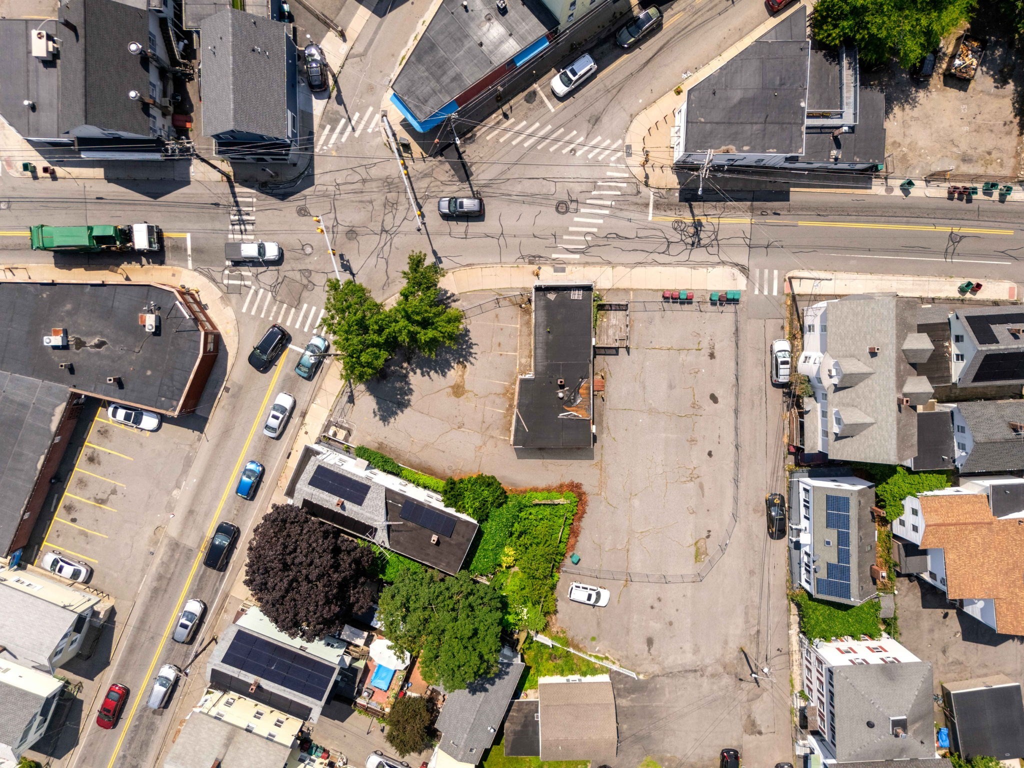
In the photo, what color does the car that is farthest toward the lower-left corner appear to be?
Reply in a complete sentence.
In this view, the car that is farthest toward the lower-left corner is red.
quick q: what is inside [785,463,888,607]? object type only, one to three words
house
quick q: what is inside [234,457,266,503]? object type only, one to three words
car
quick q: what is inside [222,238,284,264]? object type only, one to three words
truck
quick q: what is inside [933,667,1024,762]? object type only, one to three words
building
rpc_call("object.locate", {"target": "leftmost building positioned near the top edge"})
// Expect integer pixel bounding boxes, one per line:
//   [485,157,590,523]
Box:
[0,19,77,149]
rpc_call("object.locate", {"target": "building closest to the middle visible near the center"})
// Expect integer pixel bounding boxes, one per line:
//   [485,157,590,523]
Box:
[513,284,596,447]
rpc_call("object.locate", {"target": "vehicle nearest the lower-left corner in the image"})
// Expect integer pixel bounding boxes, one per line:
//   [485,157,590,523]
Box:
[98,678,132,730]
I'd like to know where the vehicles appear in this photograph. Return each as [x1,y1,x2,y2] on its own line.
[171,595,207,648]
[27,219,162,255]
[753,0,801,25]
[144,659,182,715]
[294,331,330,384]
[250,321,289,375]
[548,49,601,102]
[764,491,789,540]
[98,678,132,730]
[908,40,942,93]
[436,193,486,219]
[40,549,96,585]
[234,457,266,503]
[301,39,330,98]
[202,519,240,574]
[566,580,612,609]
[613,0,668,52]
[768,338,795,387]
[717,748,740,768]
[222,238,284,264]
[104,402,164,432]
[261,387,298,443]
